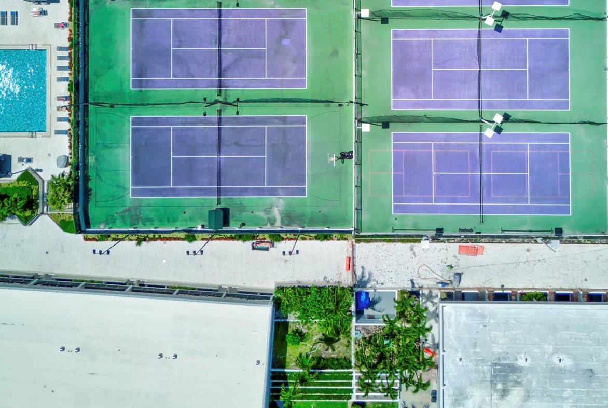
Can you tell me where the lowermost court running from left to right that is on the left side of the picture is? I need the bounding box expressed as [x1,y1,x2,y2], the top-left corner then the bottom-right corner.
[95,107,340,207]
